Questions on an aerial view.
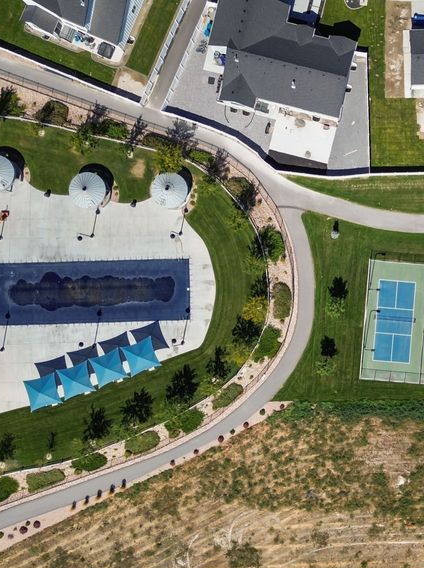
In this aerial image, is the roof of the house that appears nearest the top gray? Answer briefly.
Yes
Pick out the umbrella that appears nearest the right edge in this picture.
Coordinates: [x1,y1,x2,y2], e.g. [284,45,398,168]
[150,171,188,209]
